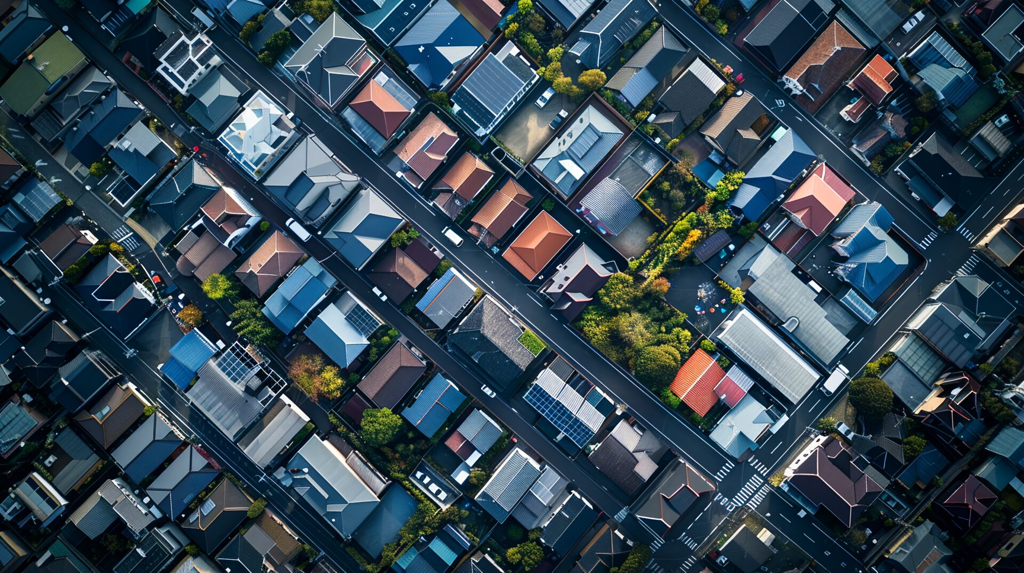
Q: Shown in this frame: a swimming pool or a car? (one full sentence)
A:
I can see a car in this picture.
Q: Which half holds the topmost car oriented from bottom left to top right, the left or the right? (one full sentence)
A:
The topmost car oriented from bottom left to top right sits on the right side.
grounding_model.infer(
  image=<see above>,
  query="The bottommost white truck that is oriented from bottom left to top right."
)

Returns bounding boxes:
[819,364,850,396]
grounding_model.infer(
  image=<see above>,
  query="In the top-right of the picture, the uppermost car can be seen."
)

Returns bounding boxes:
[900,10,927,35]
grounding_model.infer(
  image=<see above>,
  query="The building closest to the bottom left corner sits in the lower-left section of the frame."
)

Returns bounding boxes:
[0,528,33,572]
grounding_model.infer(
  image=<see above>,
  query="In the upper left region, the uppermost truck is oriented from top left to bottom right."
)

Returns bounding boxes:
[187,2,217,31]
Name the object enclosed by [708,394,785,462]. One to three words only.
building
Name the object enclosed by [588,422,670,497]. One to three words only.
house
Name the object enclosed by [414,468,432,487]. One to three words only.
car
